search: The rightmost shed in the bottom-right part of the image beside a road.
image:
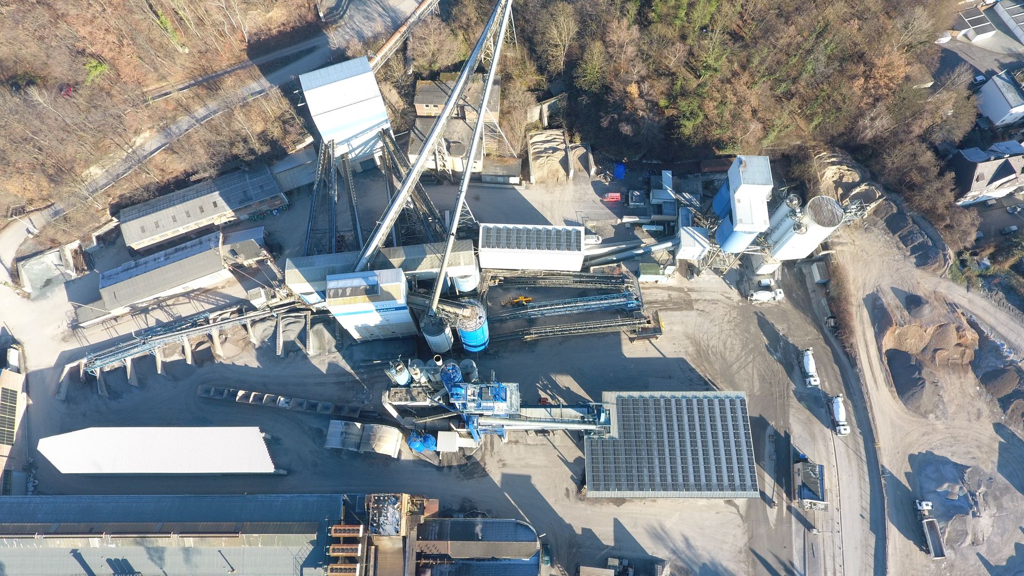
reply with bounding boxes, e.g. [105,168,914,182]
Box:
[794,461,831,509]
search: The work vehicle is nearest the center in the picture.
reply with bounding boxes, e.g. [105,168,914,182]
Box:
[497,294,528,309]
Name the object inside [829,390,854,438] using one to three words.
truck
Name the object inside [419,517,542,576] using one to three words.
building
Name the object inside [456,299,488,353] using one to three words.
silo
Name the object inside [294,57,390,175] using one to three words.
house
